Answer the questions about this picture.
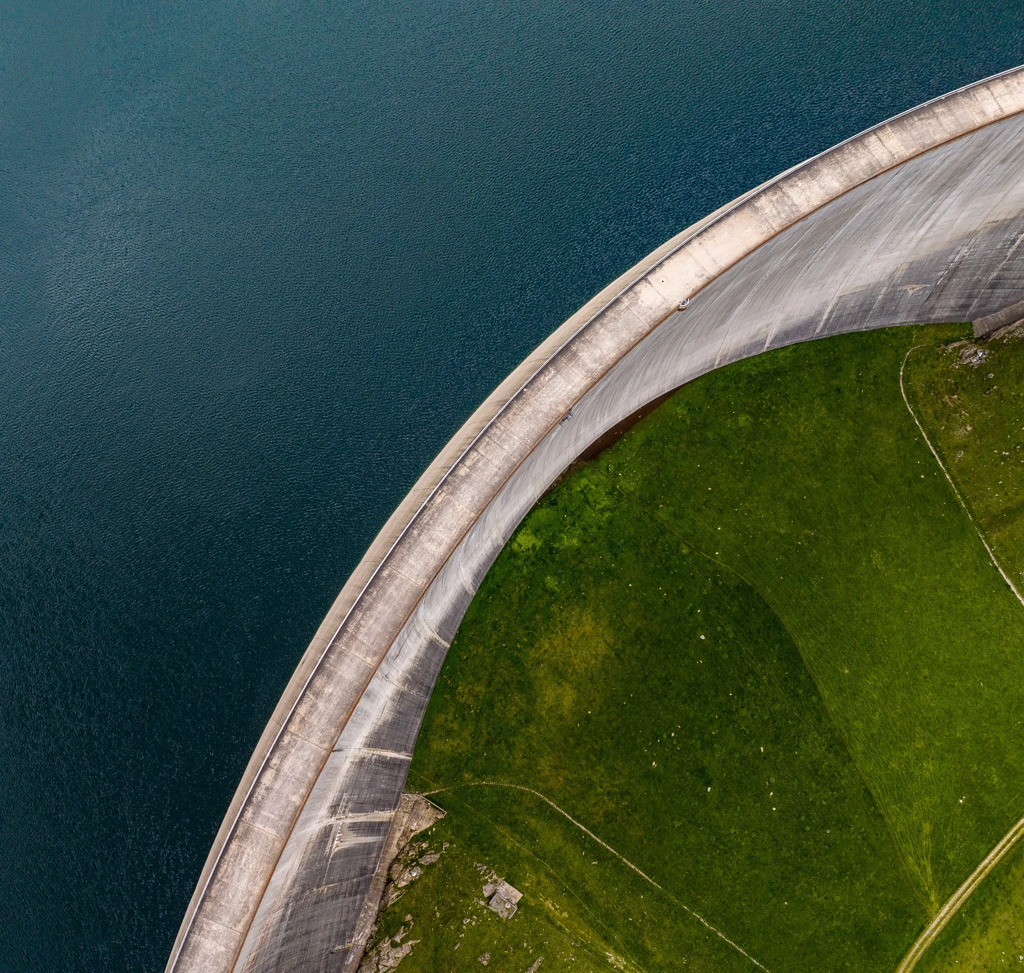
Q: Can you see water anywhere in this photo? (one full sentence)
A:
Yes, some water is visible.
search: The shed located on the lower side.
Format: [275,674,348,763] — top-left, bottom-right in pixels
[488,881,523,919]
